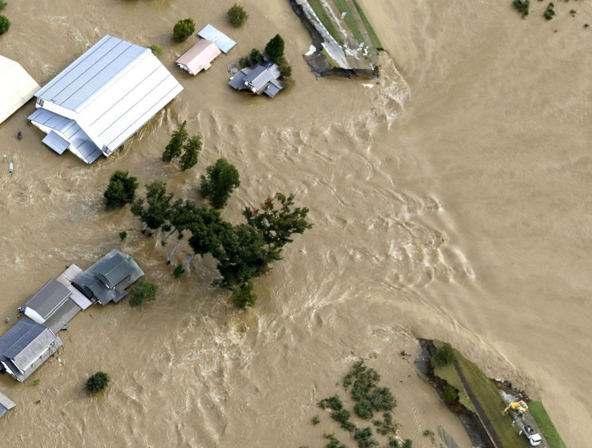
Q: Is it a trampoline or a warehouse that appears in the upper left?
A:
warehouse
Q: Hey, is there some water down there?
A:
Yes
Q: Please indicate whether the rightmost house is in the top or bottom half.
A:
top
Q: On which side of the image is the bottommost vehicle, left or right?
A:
right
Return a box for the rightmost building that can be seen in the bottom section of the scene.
[76,249,145,306]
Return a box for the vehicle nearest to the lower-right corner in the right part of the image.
[523,422,543,445]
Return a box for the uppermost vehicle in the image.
[499,399,537,422]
